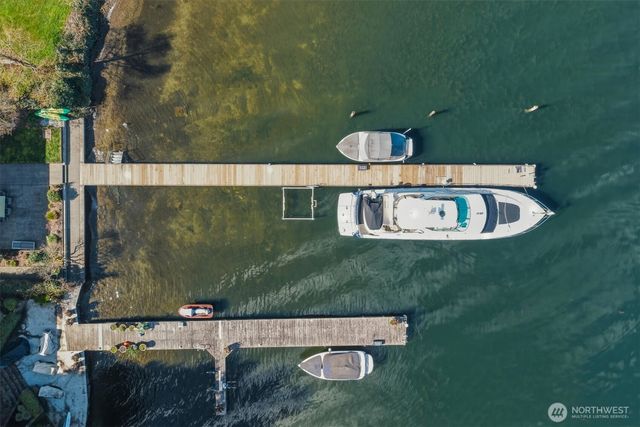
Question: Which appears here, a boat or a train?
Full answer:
The one in the frame is a boat.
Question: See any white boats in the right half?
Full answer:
Yes, in the right half there is a white boat.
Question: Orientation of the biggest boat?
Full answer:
I'd say the biggest boat is aligned from side to side in the picture.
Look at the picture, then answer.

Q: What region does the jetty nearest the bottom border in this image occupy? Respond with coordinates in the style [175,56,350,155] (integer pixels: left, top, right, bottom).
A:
[63,312,408,416]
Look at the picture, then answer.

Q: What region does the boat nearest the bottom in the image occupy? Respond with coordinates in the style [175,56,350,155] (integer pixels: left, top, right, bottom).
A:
[297,350,374,381]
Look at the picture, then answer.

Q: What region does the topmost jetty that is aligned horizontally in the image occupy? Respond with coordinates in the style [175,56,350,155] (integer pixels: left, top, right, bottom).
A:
[81,162,537,189]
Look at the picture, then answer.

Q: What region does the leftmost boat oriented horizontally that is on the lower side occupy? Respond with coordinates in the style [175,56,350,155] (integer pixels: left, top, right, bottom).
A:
[178,304,214,318]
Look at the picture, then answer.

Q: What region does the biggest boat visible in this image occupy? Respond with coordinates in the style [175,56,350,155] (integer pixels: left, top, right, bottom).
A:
[338,187,559,240]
